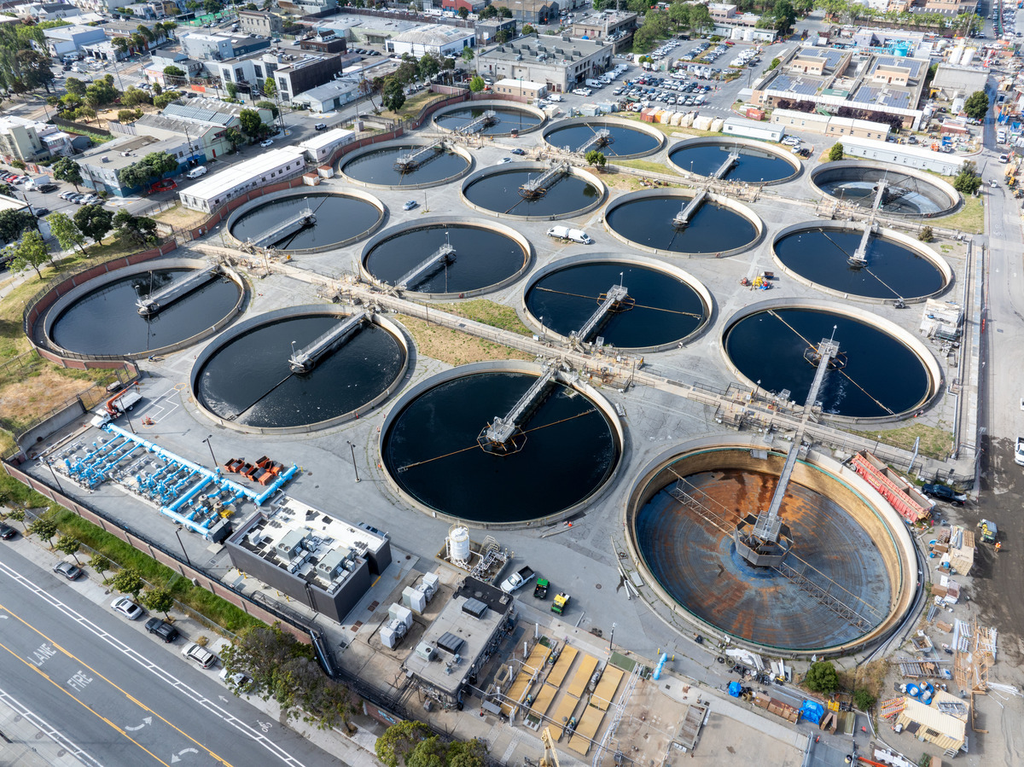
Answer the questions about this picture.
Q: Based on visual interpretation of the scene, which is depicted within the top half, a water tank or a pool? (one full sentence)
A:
It is a water tank that can be seen within the top half.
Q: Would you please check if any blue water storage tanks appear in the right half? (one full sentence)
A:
Yes, a blue water storage tank appears in the right half.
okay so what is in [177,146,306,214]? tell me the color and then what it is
white trailer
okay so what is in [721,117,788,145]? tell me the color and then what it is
white trailer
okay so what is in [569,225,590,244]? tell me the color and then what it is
white vehicle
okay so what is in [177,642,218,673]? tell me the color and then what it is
white car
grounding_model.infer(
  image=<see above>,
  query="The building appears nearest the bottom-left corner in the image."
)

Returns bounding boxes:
[224,491,390,624]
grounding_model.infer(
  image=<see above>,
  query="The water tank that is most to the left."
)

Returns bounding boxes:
[43,256,250,364]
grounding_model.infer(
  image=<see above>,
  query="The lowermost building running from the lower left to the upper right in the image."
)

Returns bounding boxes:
[389,577,515,722]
